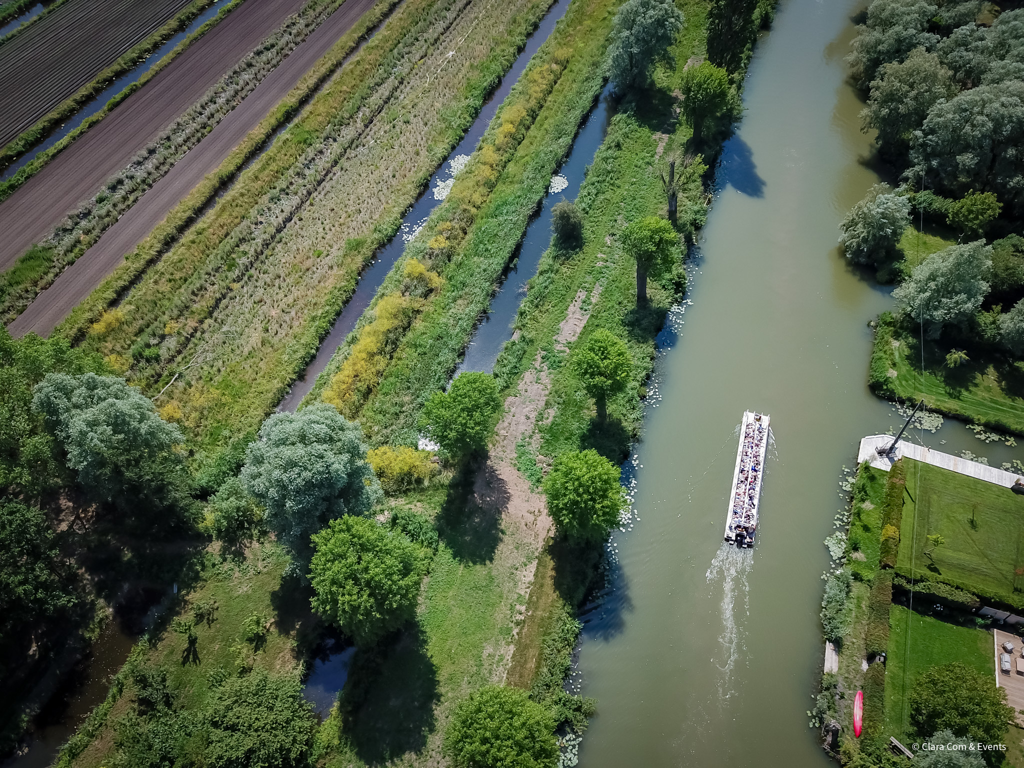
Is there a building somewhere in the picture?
No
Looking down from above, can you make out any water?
Yes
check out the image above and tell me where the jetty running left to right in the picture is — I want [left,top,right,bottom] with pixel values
[856,433,1024,487]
